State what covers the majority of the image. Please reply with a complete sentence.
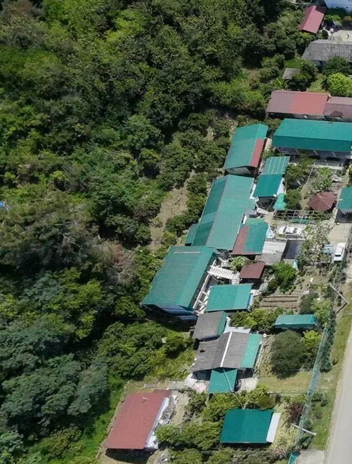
The bulk of the photo consists of trees.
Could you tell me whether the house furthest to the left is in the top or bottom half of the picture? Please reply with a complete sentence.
The house furthest to the left sits in the bottom half of the picture.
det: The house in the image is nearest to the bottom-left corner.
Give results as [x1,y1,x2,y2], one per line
[107,390,184,450]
